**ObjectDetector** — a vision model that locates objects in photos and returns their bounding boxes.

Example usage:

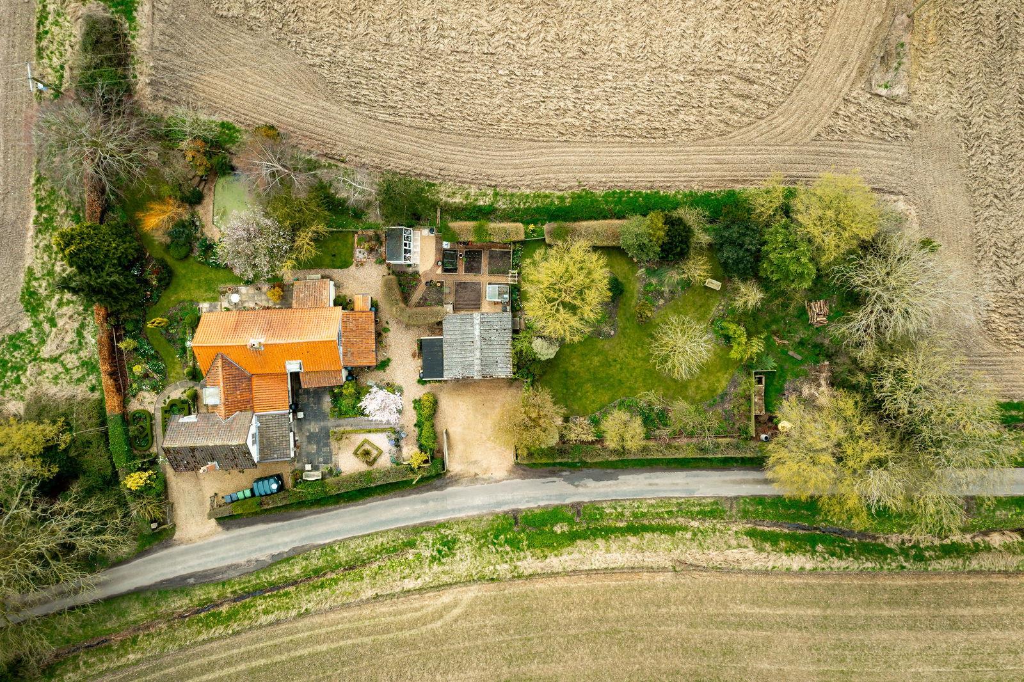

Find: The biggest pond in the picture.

[214,175,265,238]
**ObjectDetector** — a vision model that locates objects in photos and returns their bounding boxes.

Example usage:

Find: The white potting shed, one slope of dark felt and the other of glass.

[385,225,414,264]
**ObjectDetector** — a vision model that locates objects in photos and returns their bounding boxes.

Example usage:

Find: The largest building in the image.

[161,278,378,475]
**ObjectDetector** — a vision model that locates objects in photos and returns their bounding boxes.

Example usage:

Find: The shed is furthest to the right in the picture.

[419,313,513,380]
